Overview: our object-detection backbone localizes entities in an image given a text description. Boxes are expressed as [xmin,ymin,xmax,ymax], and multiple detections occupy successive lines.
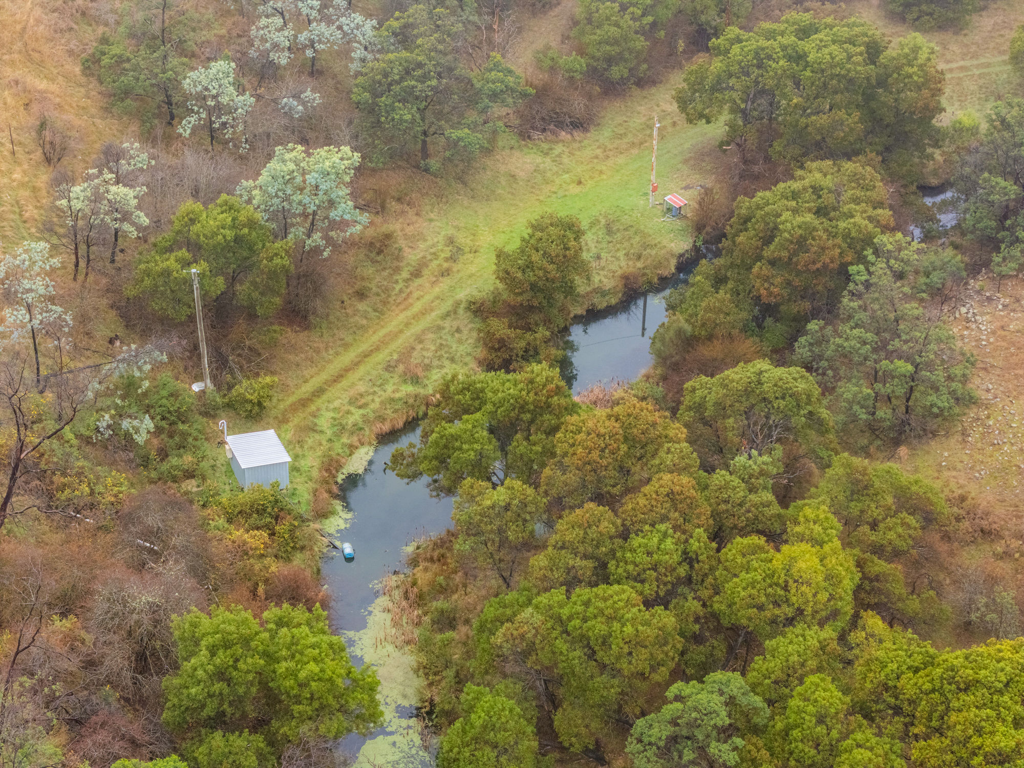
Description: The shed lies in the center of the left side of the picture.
[220,424,292,488]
